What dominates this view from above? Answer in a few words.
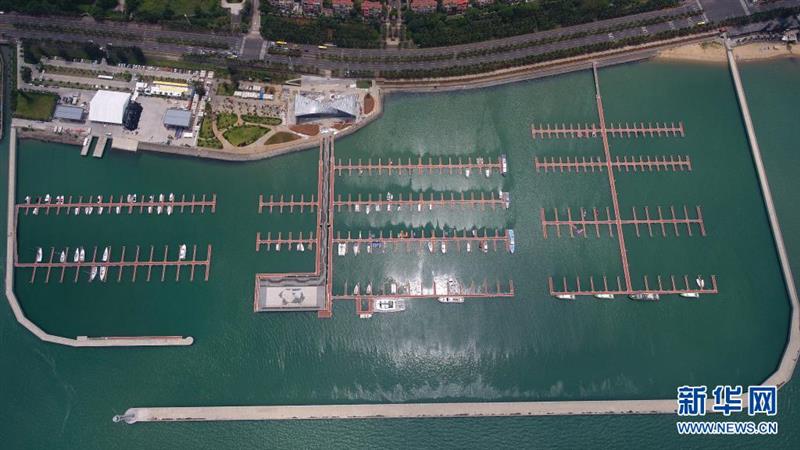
water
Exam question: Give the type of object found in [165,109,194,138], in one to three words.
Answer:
shed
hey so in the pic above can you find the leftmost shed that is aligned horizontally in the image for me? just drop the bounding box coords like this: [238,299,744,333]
[54,105,86,120]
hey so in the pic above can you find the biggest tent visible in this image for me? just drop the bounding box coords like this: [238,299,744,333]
[88,90,132,123]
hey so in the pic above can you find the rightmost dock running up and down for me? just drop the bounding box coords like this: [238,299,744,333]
[593,60,634,291]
